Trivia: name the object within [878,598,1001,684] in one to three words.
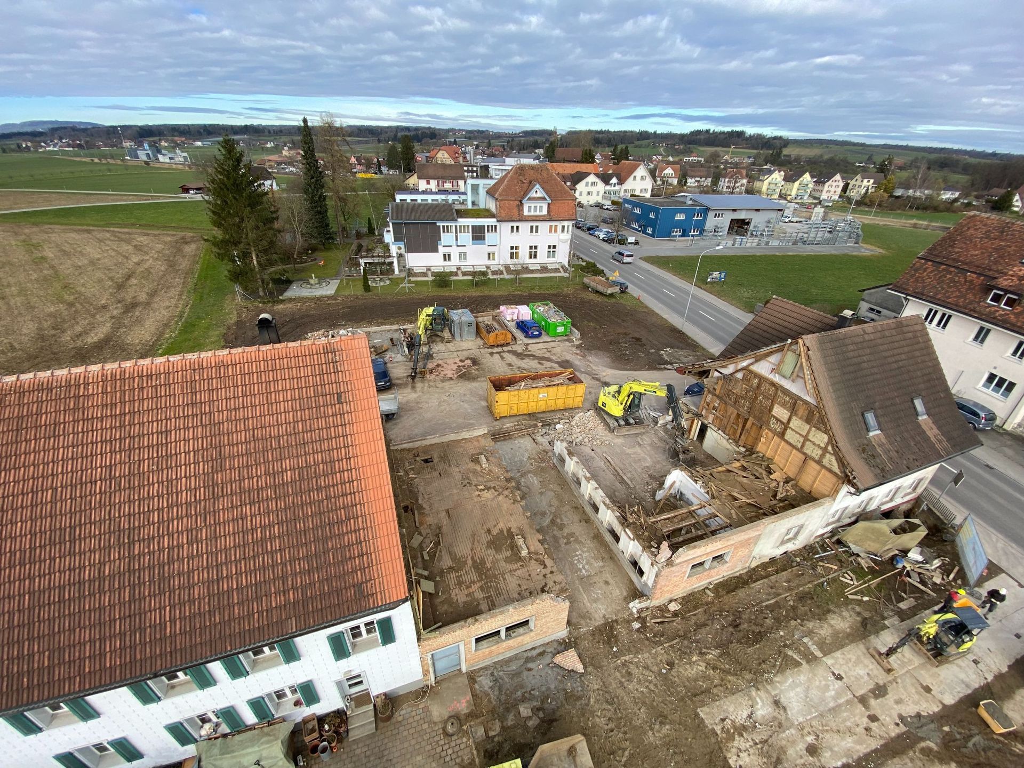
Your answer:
work vehicle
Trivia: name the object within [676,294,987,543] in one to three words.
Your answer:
house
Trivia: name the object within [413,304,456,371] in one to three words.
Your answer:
work vehicle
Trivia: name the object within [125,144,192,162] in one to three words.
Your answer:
building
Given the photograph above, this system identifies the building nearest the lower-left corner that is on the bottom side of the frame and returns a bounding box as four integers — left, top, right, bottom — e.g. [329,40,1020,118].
[0,311,422,768]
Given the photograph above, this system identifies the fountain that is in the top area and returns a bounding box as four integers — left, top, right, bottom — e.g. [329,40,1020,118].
[294,269,333,290]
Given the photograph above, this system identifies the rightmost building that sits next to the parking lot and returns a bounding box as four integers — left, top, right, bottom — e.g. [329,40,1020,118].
[870,211,1024,425]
